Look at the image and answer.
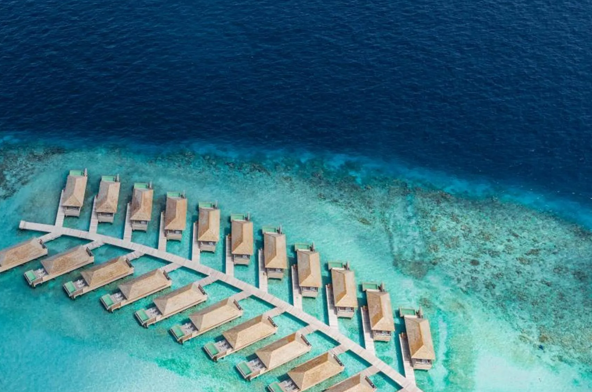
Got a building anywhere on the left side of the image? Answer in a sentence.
Yes, I can see a building on the left side of the image.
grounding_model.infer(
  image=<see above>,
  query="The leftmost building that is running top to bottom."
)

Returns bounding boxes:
[62,174,87,223]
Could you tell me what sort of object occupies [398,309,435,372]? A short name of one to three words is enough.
house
